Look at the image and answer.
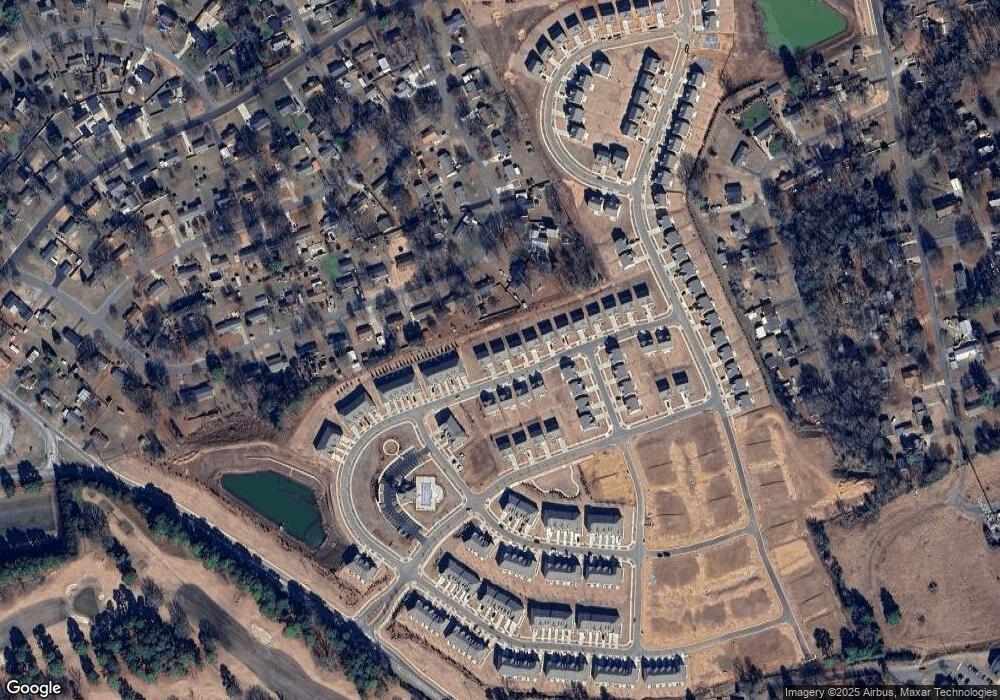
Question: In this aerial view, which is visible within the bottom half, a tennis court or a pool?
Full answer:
The feature located within the bottom half is a pool.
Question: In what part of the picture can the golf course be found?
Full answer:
The golf course sits in the bottom left section of the image.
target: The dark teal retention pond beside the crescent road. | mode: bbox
[218,469,327,551]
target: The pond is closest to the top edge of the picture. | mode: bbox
[754,0,849,55]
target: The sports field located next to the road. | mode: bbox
[0,494,56,540]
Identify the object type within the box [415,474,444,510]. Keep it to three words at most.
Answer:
swimming pool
